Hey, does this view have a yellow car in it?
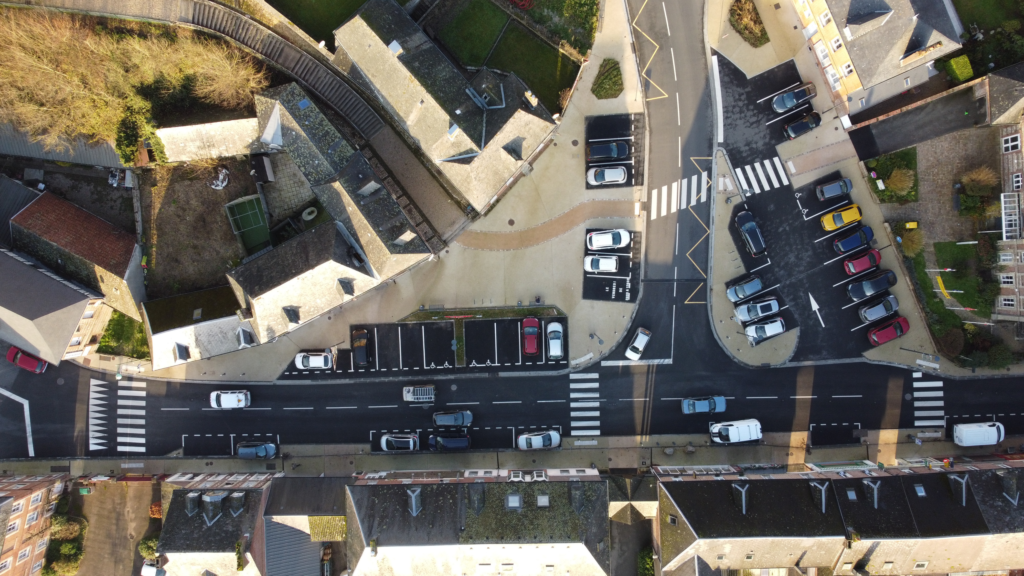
Yes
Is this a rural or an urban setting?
urban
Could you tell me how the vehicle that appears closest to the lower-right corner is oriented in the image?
from side to side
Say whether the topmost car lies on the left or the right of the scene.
right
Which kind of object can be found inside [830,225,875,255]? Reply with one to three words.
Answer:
car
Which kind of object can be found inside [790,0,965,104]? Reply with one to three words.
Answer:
building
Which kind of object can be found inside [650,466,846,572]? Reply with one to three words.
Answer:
house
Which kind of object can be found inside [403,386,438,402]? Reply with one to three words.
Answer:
vehicle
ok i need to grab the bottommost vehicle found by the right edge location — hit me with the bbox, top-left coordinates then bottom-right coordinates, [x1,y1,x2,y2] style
[946,422,1000,446]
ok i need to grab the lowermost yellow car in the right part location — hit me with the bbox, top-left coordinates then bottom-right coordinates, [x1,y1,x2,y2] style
[817,202,865,231]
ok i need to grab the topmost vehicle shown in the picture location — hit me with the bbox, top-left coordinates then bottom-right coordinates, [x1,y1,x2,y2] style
[770,81,819,114]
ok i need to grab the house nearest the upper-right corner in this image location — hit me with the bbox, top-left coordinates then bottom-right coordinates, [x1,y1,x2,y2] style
[973,64,1024,128]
